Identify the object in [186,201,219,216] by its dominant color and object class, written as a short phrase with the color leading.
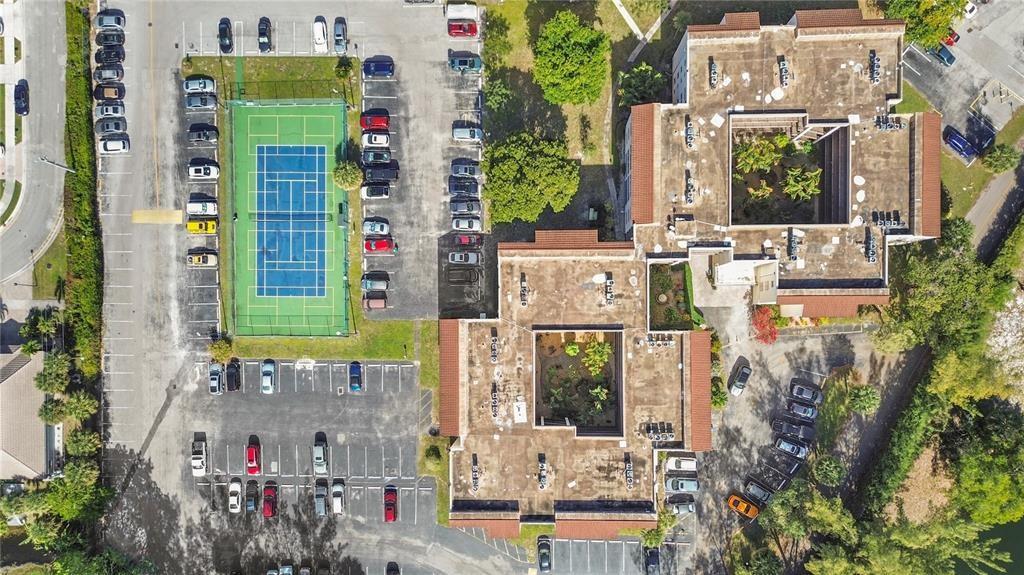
white vehicle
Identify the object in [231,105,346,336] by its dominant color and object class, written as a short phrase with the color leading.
green tennis court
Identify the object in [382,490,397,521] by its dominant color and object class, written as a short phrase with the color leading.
red car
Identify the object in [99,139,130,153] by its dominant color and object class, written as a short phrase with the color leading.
white car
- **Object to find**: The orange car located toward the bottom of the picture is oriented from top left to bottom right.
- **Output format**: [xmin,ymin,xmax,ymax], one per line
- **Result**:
[727,494,758,518]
